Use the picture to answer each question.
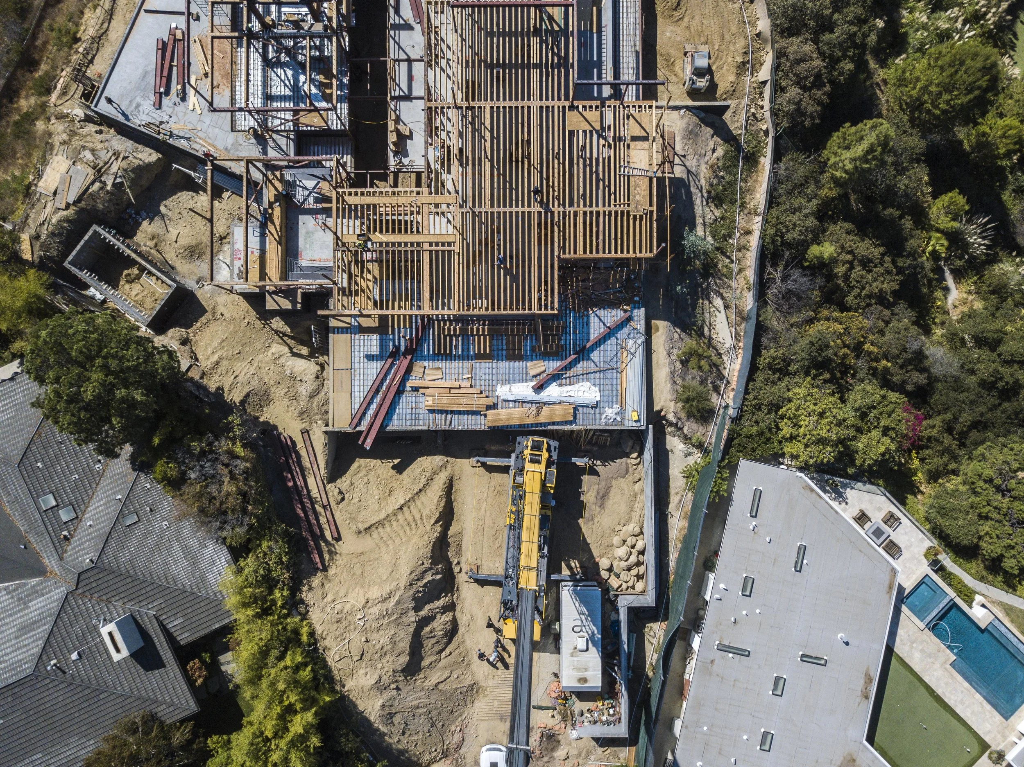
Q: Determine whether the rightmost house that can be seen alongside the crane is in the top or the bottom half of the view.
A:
bottom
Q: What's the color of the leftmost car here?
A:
white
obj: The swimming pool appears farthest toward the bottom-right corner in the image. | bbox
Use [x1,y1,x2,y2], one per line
[926,601,1024,721]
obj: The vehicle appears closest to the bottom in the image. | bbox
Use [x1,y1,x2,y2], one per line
[480,740,507,767]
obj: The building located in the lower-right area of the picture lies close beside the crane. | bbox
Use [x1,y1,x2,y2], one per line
[664,458,902,767]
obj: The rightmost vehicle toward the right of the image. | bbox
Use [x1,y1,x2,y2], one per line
[677,42,709,96]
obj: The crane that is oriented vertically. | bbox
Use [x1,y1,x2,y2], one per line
[465,435,591,767]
